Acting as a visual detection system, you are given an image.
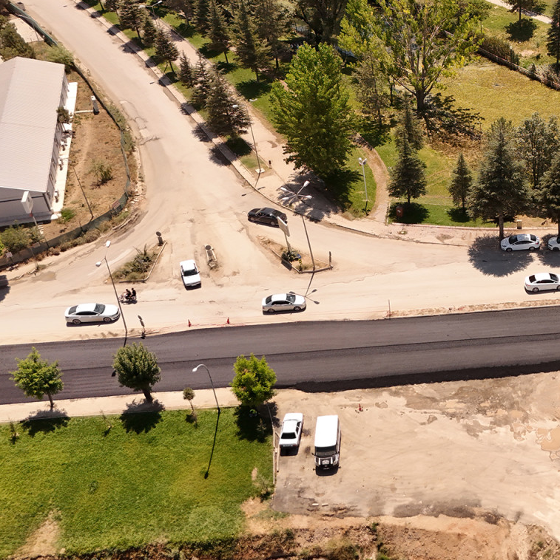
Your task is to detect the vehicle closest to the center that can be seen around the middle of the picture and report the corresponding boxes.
[260,292,307,313]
